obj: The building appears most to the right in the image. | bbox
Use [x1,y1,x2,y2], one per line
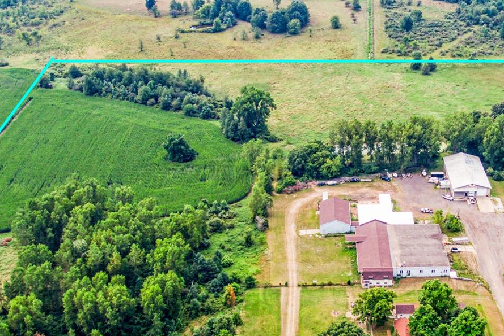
[443,154,492,201]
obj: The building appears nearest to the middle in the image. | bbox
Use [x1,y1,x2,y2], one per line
[316,198,351,234]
